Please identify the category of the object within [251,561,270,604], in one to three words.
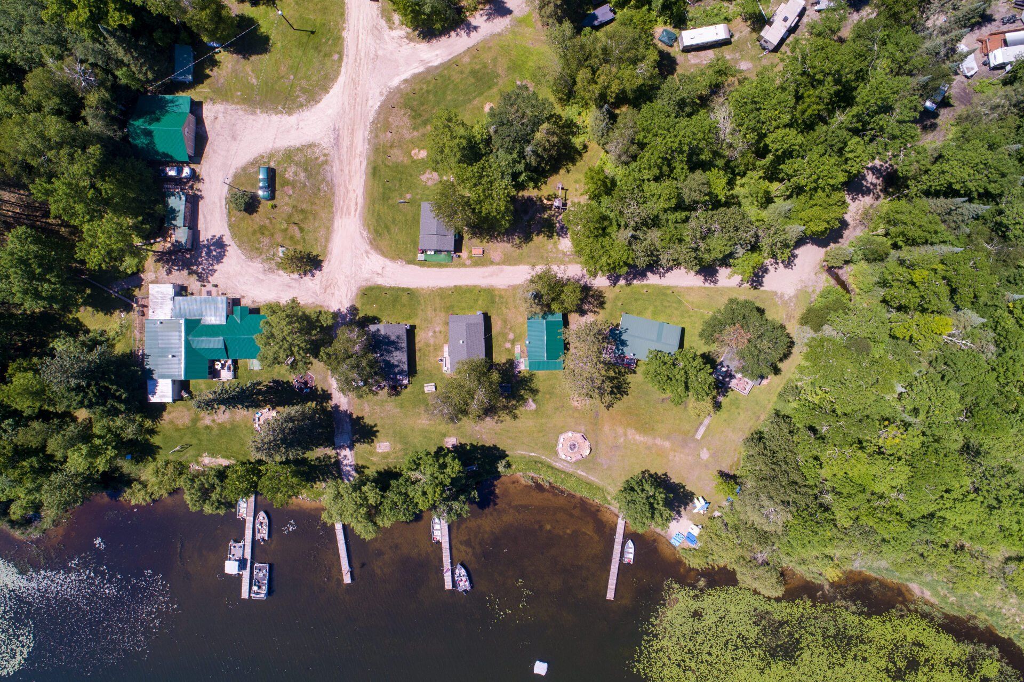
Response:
boat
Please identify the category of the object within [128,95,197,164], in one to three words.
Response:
building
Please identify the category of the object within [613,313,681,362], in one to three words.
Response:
building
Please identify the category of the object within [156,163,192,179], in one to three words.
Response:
car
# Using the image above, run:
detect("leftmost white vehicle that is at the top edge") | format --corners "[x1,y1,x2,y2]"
[673,24,730,55]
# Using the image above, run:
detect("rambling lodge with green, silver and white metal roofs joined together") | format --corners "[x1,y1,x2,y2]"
[145,284,266,402]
